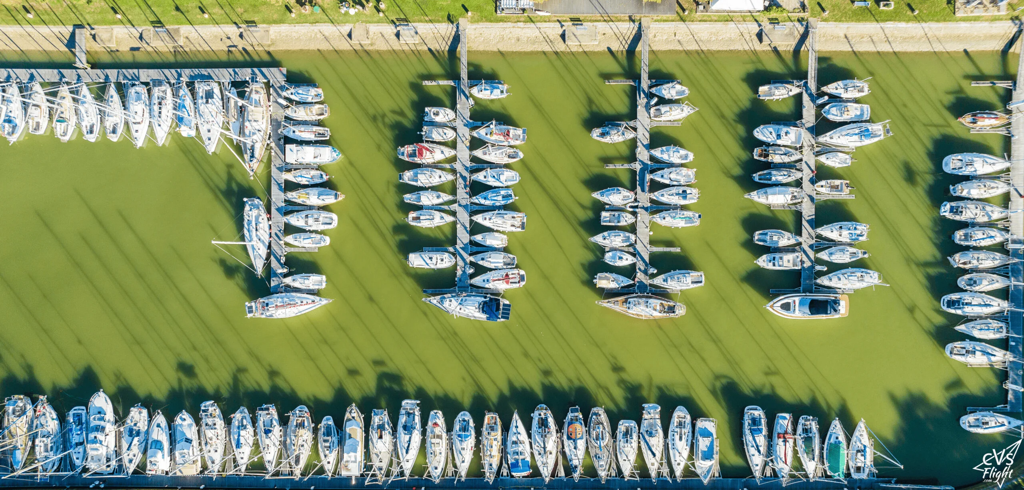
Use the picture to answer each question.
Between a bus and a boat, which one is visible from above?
boat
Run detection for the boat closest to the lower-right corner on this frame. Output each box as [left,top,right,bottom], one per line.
[958,410,1024,441]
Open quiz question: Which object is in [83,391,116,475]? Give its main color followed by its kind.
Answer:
white boat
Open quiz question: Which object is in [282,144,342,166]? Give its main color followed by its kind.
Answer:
white boat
